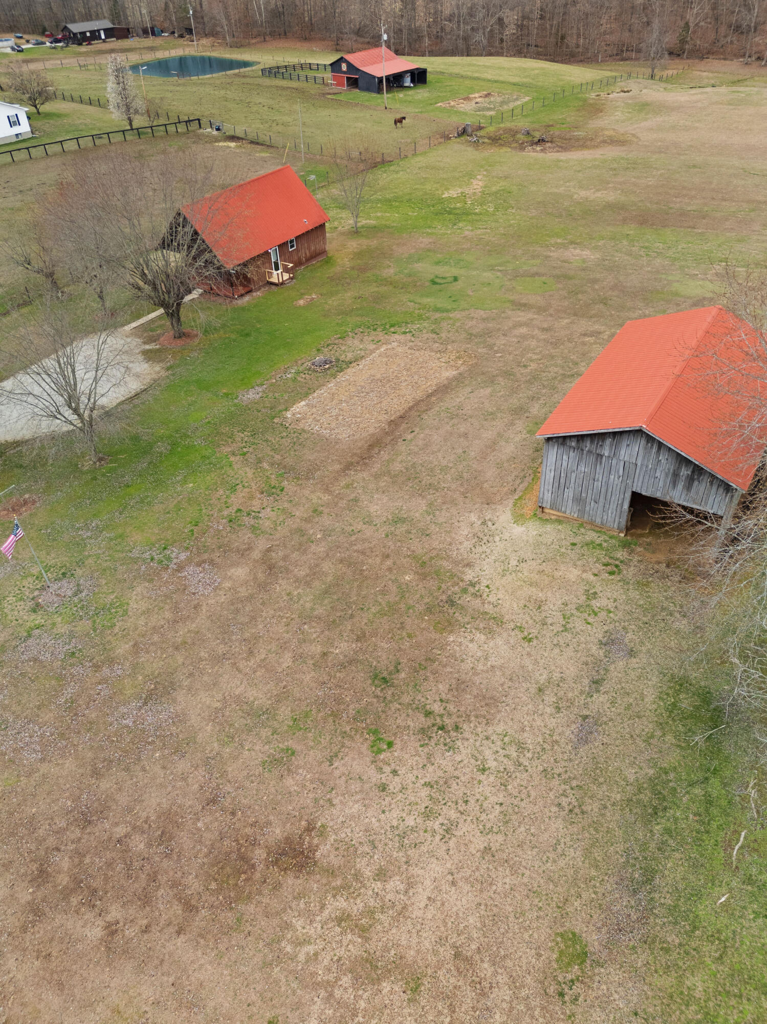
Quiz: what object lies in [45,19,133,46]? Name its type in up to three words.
building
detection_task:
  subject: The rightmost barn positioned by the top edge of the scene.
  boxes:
[330,50,427,93]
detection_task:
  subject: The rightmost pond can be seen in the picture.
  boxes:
[132,55,256,77]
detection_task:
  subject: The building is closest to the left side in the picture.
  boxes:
[0,98,40,144]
